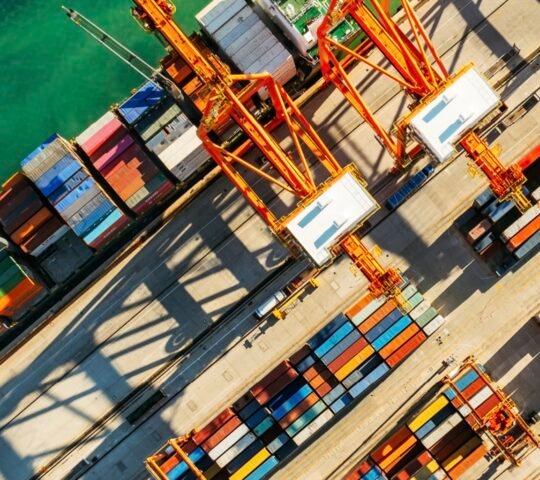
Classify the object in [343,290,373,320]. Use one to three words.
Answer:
shipping container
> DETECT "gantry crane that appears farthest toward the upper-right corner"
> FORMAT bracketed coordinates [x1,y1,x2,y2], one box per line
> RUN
[310,0,540,220]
